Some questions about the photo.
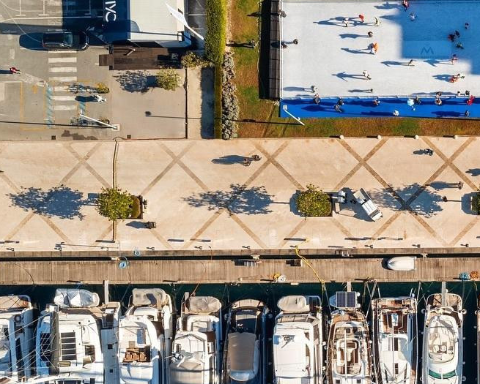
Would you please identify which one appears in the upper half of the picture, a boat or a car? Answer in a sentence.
Looking in the upper half of the picture, you will find a car.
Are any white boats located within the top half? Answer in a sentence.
No, no white boat appears within the top half.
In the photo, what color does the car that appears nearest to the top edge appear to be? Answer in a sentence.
The car that appears nearest to the top edge is black.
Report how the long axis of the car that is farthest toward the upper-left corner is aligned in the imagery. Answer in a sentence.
Seen from above, the car that is farthest toward the upper-left corner lies horizontally.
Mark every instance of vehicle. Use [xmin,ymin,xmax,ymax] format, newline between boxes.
[37,26,87,50]
[351,189,377,220]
